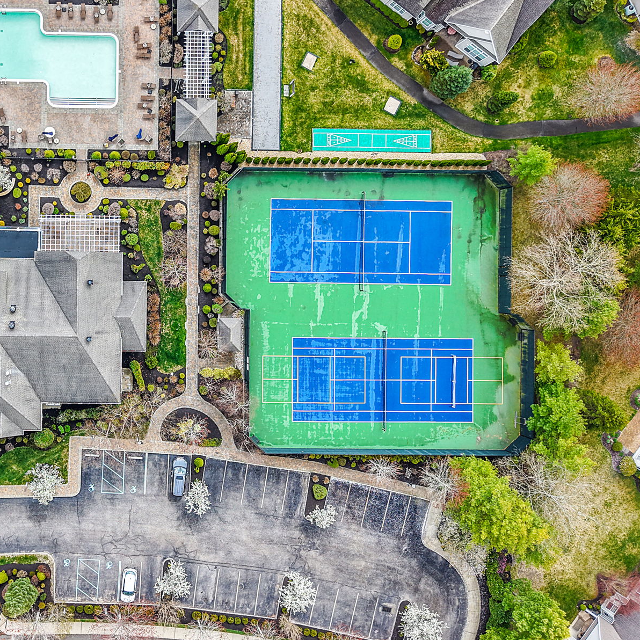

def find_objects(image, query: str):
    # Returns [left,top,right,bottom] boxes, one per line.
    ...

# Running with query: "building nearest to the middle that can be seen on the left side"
[216,317,242,352]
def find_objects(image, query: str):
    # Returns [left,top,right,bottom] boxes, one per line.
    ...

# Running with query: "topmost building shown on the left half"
[176,0,219,40]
